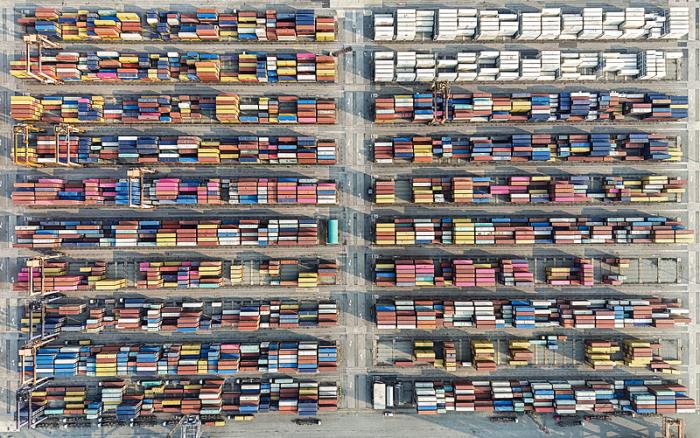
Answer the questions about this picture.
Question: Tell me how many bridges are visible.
zero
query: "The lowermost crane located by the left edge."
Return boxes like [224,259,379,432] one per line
[14,377,55,428]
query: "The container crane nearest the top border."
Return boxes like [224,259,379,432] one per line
[21,27,66,85]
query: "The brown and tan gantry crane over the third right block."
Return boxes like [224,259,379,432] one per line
[423,73,449,126]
